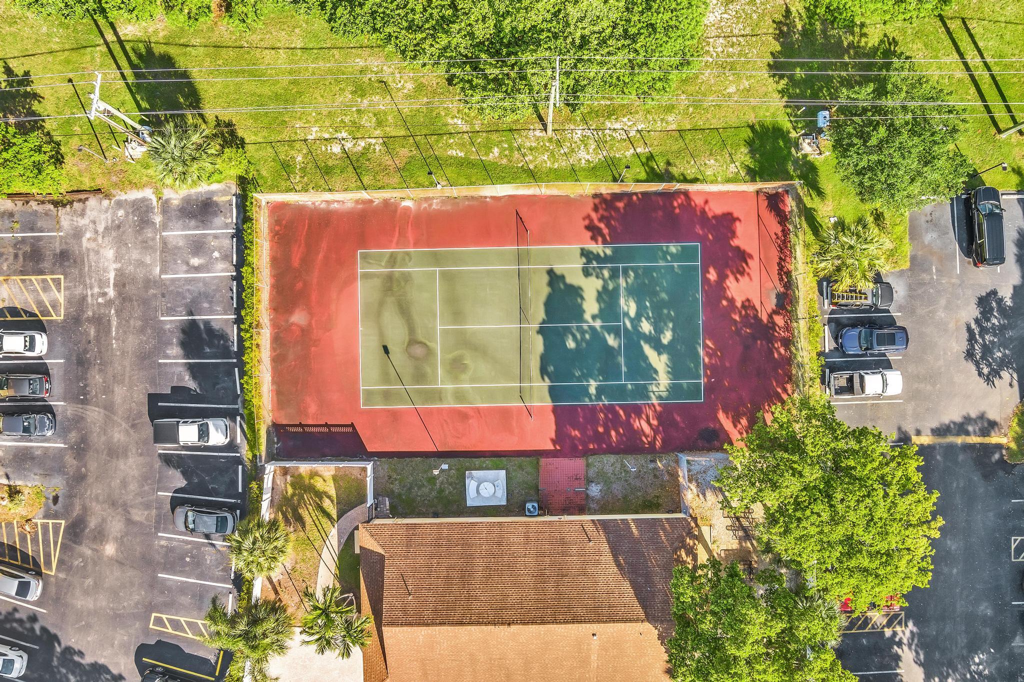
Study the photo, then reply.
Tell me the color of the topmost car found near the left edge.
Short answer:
white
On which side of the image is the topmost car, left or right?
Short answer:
right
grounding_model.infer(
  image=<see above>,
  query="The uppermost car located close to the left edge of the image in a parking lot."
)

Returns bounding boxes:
[0,330,51,357]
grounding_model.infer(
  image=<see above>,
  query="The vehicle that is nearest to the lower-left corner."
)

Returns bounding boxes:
[0,643,33,678]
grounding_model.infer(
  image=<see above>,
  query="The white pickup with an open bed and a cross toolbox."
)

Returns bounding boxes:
[827,367,901,399]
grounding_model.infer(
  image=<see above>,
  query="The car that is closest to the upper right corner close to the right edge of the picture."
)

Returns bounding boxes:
[963,190,1008,268]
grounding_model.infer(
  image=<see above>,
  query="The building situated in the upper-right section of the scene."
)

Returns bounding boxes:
[797,132,819,154]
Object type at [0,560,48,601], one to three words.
car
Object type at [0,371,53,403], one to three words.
car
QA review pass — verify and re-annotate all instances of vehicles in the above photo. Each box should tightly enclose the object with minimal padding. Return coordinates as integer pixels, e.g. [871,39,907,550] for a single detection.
[175,503,241,536]
[827,367,901,399]
[822,279,892,311]
[0,371,53,403]
[835,323,909,356]
[0,560,48,601]
[963,190,1008,268]
[151,416,232,449]
[0,643,33,678]
[142,668,206,682]
[0,409,56,441]
[0,330,51,357]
